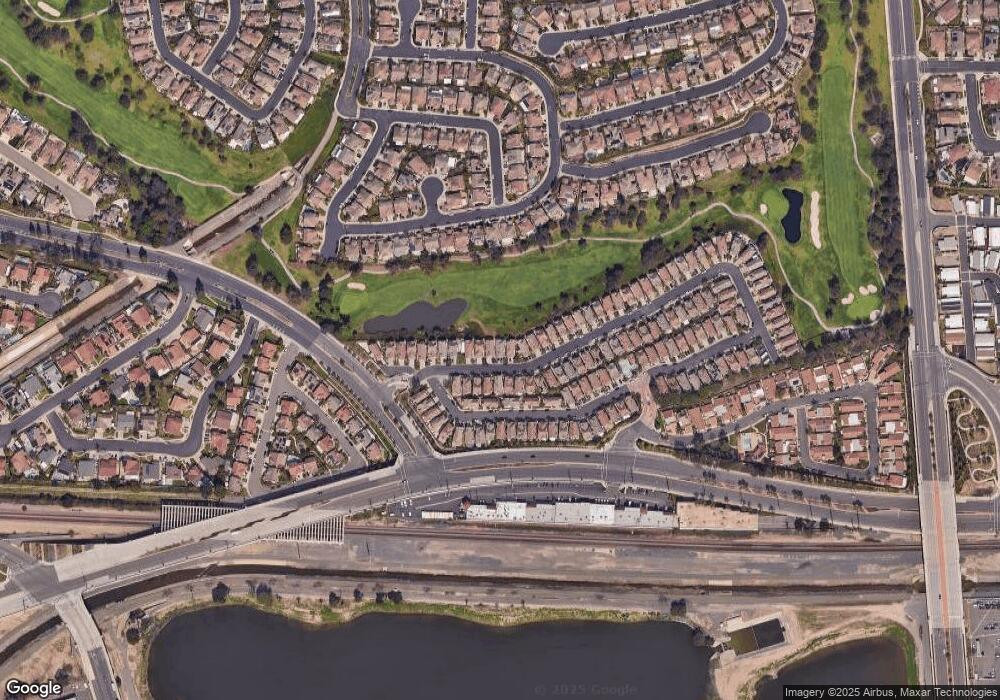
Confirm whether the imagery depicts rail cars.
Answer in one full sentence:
No, I find no rail car anywhere in the image.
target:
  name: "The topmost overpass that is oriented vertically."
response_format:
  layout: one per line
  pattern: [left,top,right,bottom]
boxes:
[919,476,965,624]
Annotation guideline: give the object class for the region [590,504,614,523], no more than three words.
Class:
building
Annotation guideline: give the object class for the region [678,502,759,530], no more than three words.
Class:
building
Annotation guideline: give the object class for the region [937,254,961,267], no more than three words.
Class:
house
